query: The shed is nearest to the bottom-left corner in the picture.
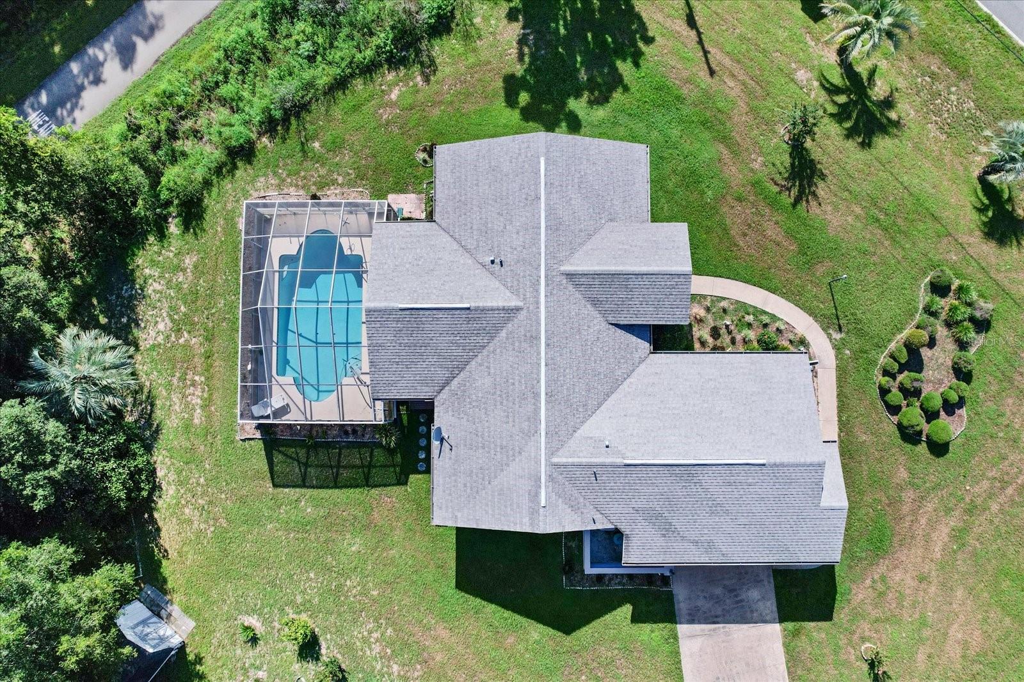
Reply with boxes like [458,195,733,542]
[110,594,184,665]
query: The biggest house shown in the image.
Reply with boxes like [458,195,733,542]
[365,131,847,567]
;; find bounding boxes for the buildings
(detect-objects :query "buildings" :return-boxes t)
[110,594,184,665]
[365,131,847,567]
